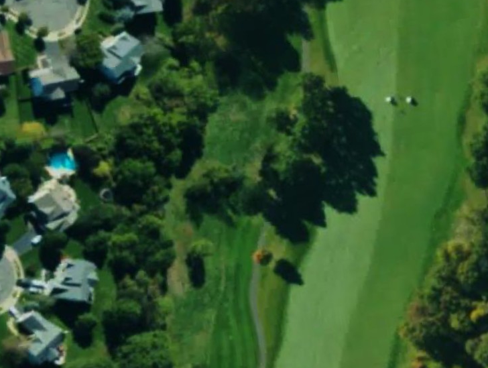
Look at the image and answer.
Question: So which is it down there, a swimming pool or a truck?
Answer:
swimming pool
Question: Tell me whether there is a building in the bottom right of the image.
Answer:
No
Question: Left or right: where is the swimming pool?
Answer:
left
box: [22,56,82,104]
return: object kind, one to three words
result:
house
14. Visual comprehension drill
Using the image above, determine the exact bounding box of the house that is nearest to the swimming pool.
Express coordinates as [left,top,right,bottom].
[26,176,81,228]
